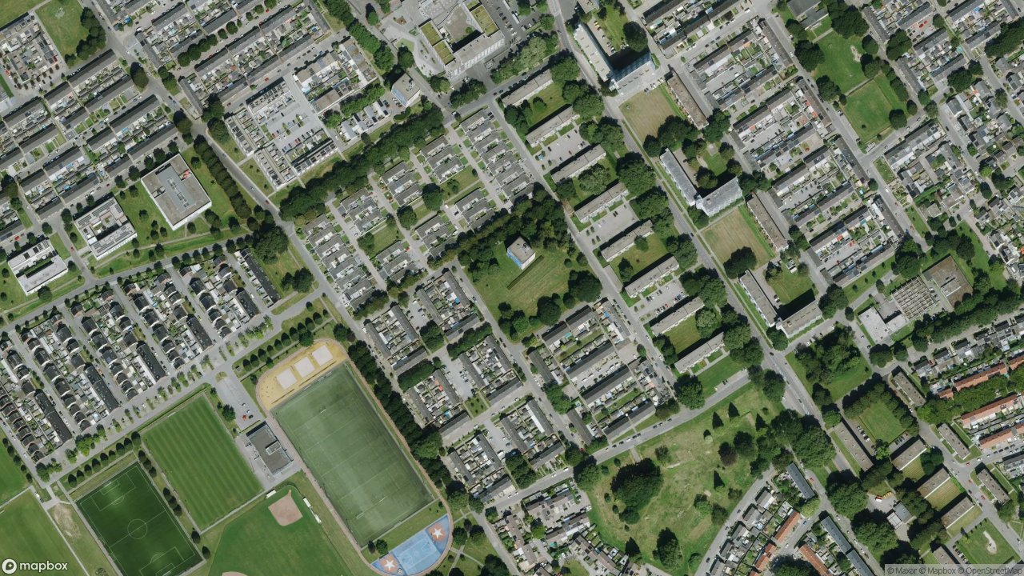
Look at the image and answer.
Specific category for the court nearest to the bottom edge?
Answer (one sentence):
Specifically, the court nearest to the bottom edge is a basketball court.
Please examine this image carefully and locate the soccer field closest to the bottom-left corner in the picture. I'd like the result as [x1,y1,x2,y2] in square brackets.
[76,461,205,576]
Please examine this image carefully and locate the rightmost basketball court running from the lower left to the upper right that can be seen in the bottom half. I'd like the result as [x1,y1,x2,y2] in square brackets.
[371,514,450,575]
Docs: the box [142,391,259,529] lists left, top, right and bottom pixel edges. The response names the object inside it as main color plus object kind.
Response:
green sports field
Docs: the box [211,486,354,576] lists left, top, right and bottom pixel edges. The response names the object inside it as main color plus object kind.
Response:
green baseball field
